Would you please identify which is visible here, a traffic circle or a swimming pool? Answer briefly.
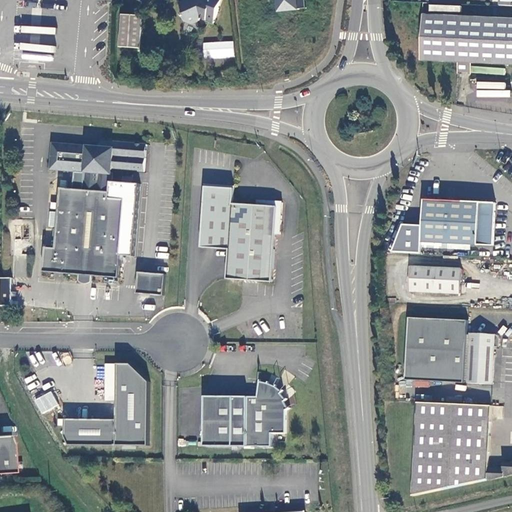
traffic circle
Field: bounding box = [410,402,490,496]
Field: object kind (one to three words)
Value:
building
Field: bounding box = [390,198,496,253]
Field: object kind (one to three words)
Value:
building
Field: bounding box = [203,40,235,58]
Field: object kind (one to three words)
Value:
shed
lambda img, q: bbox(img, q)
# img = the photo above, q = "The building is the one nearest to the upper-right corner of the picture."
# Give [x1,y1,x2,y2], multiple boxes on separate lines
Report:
[418,13,512,74]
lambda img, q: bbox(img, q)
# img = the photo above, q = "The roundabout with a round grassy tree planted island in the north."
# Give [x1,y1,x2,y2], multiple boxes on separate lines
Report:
[304,64,418,178]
